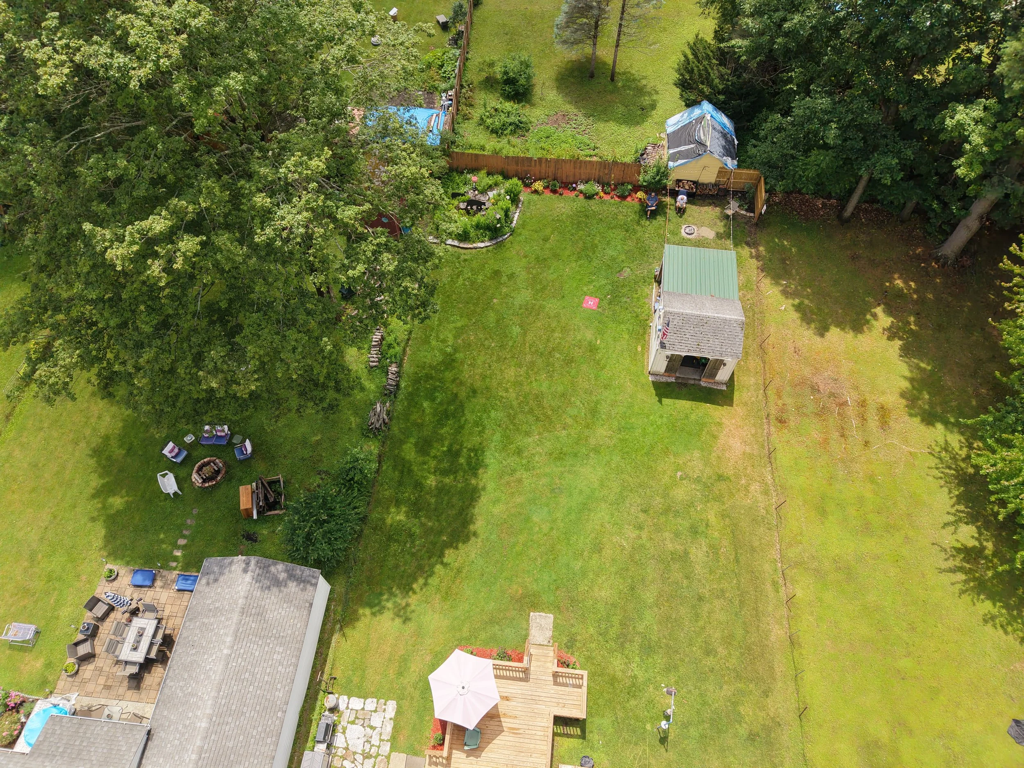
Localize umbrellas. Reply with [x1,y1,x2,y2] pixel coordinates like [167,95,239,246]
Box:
[103,592,141,607]
[428,649,500,730]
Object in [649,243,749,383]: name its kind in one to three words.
shed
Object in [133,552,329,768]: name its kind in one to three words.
house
